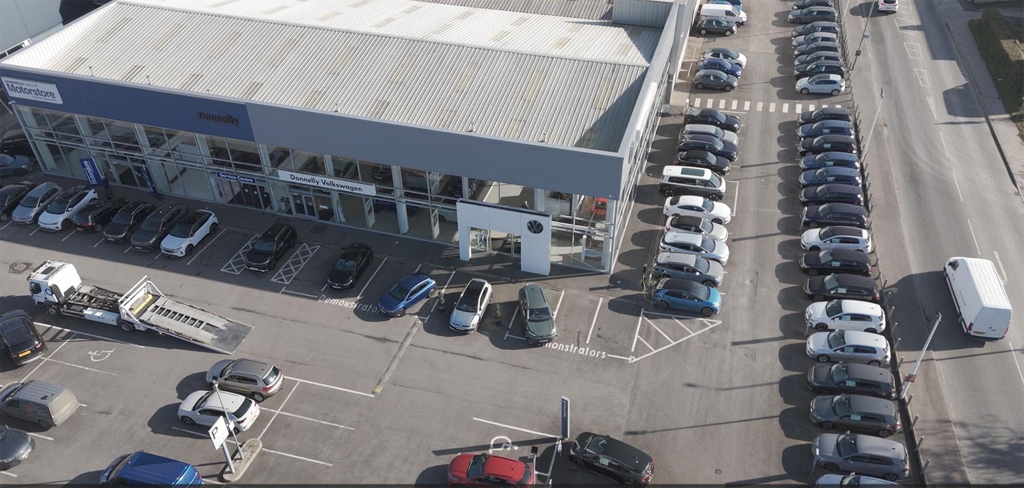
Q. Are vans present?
Yes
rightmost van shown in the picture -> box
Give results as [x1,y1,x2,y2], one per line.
[947,262,1021,343]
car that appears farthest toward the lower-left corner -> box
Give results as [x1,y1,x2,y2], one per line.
[0,421,37,470]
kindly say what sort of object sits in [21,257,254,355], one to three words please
truck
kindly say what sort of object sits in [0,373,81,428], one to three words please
van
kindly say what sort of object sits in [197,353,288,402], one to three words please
car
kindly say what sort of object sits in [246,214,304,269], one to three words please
car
